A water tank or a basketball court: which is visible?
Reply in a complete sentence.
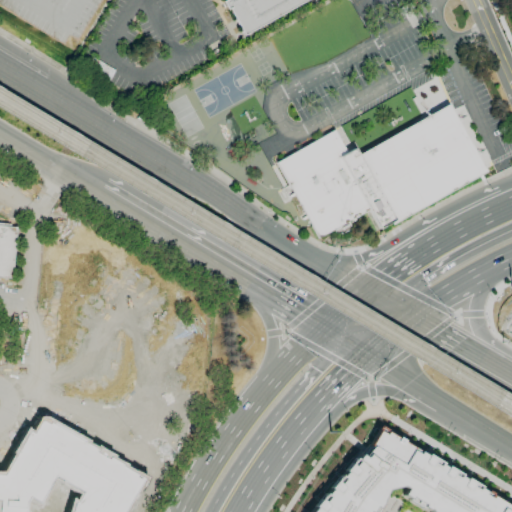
It is a basketball court that can be seen here.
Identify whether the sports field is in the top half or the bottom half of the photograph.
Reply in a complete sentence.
You can find the sports field in the top half.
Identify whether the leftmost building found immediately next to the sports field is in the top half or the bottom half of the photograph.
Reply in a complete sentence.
The top half of the photo is where the leftmost building found immediately next to the sports field is.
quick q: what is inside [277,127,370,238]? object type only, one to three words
building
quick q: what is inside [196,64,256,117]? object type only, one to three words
basketball court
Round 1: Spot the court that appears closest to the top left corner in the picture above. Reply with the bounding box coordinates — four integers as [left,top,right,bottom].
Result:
[170,95,204,136]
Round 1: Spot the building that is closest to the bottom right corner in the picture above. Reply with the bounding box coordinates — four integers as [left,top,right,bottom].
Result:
[309,426,512,512]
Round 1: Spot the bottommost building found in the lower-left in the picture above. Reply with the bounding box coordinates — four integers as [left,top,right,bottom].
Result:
[0,416,149,512]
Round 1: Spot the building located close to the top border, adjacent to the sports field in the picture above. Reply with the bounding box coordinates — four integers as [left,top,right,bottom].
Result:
[226,0,308,36]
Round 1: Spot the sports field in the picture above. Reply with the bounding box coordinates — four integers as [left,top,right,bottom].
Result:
[270,0,371,74]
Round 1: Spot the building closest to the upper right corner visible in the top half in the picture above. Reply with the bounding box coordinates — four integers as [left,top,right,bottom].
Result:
[361,104,484,219]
